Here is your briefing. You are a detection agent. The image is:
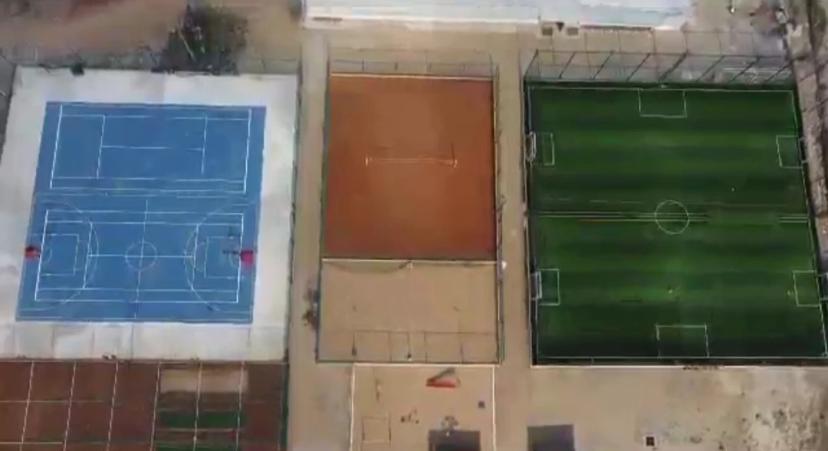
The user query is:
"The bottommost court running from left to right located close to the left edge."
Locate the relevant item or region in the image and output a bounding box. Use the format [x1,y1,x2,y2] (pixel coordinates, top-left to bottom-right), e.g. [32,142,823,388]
[0,359,286,451]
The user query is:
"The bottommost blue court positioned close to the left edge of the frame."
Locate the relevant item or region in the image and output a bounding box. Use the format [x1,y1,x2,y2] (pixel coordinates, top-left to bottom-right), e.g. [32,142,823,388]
[18,196,260,324]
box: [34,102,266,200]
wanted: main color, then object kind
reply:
blue tennis court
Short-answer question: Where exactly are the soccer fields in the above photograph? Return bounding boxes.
[522,78,828,369]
